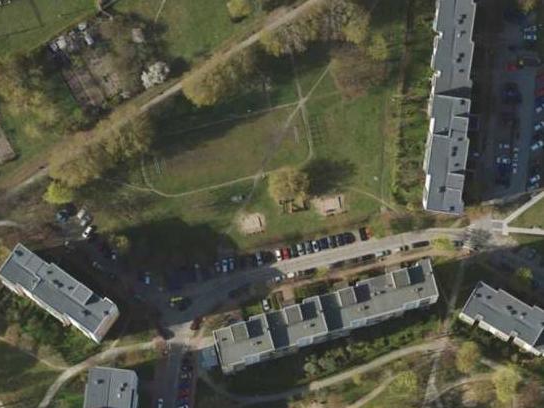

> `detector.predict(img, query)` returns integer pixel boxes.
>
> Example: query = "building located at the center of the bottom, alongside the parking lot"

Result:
[214,259,444,376]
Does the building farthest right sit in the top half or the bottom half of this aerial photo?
bottom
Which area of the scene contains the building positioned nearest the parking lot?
top right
